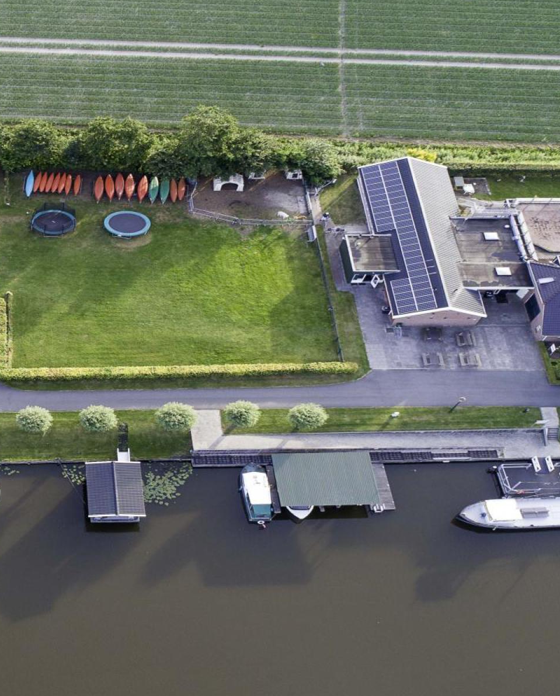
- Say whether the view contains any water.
Yes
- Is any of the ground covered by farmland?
Yes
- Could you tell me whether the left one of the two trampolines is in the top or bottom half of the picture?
top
